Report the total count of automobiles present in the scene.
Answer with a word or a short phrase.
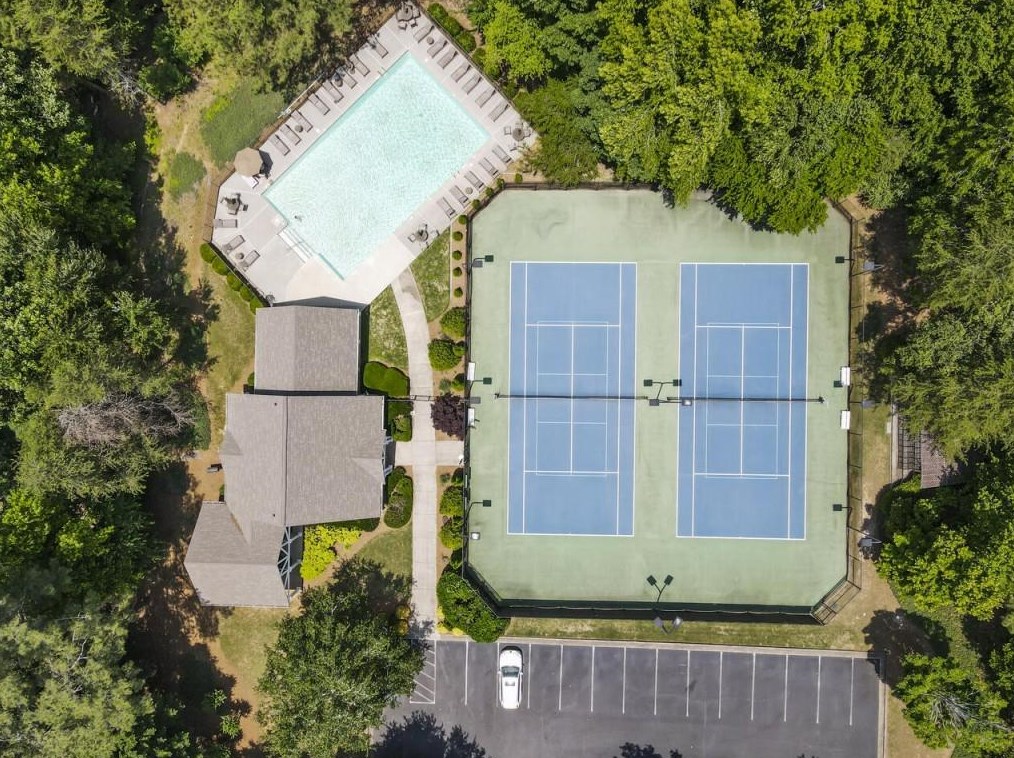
1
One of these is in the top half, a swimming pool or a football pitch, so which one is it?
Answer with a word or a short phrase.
swimming pool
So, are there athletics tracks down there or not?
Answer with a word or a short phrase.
No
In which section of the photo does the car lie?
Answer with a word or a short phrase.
bottom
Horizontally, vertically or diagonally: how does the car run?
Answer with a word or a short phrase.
vertically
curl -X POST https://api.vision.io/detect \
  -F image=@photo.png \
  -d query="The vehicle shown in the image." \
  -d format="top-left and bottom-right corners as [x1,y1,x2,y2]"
[498,649,525,712]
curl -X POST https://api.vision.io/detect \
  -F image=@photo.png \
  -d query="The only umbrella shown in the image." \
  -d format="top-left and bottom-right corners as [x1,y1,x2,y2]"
[235,149,263,177]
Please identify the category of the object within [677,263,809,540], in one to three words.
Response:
tennis court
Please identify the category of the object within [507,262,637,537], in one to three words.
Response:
tennis court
